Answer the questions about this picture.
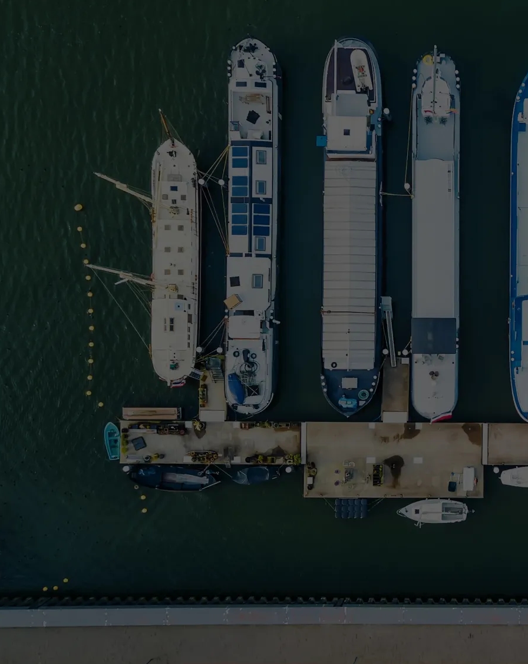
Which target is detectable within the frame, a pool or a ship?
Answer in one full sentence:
It is a ship that can be seen here.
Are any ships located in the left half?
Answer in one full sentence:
Yes, looking in the left half, one can make out a ship.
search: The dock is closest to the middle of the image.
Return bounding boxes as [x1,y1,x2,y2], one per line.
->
[199,356,229,422]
